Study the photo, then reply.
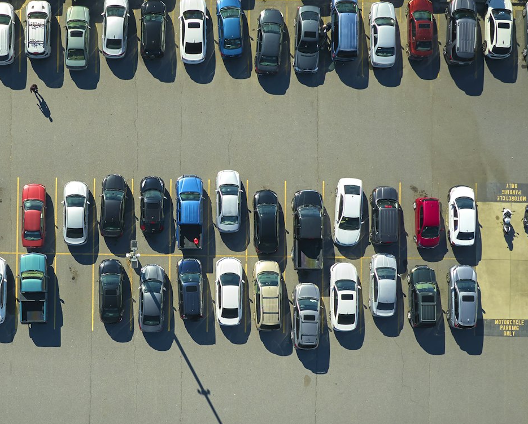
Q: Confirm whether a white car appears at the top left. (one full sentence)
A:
Yes, I can see a white car at the top left.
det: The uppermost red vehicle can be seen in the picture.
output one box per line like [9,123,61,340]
[406,0,437,61]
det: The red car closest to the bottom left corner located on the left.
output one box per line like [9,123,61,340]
[19,184,47,248]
